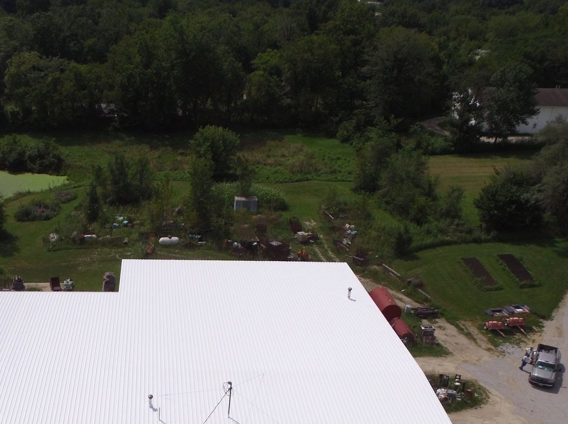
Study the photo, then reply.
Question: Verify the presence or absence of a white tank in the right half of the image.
No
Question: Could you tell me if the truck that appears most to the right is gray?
Yes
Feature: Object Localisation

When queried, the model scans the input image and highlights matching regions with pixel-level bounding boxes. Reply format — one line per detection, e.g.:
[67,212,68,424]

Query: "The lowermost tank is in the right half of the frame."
[389,311,419,346]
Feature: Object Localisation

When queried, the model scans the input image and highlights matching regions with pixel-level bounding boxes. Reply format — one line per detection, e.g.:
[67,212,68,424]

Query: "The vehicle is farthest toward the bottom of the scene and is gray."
[523,340,568,384]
